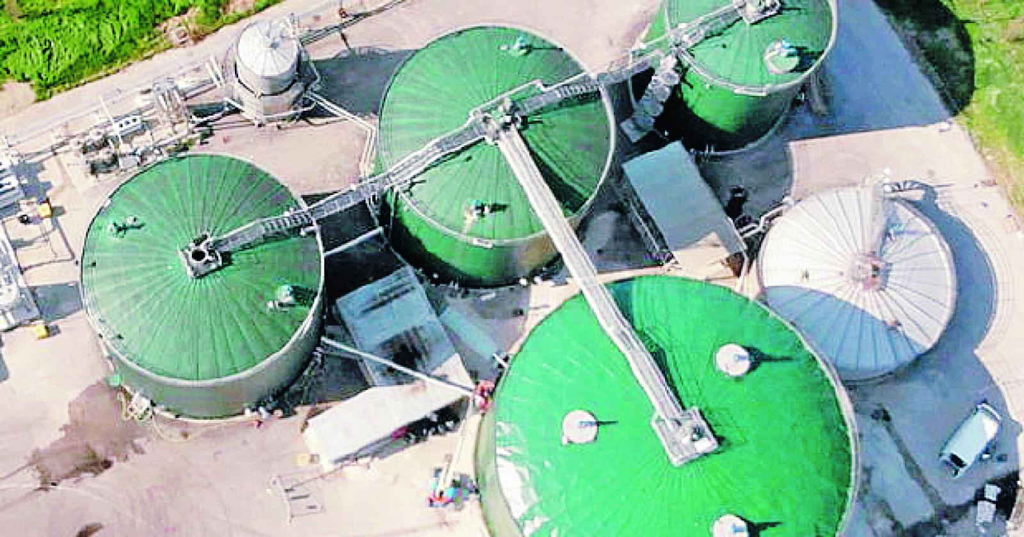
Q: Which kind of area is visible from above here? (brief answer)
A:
industrial area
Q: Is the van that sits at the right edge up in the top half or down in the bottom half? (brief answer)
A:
bottom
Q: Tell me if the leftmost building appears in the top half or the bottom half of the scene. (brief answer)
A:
top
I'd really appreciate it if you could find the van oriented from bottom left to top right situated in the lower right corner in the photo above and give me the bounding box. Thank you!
[938,403,1005,483]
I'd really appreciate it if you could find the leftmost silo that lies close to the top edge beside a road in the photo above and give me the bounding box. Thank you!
[228,6,314,132]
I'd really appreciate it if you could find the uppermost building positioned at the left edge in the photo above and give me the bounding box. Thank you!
[0,142,35,223]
